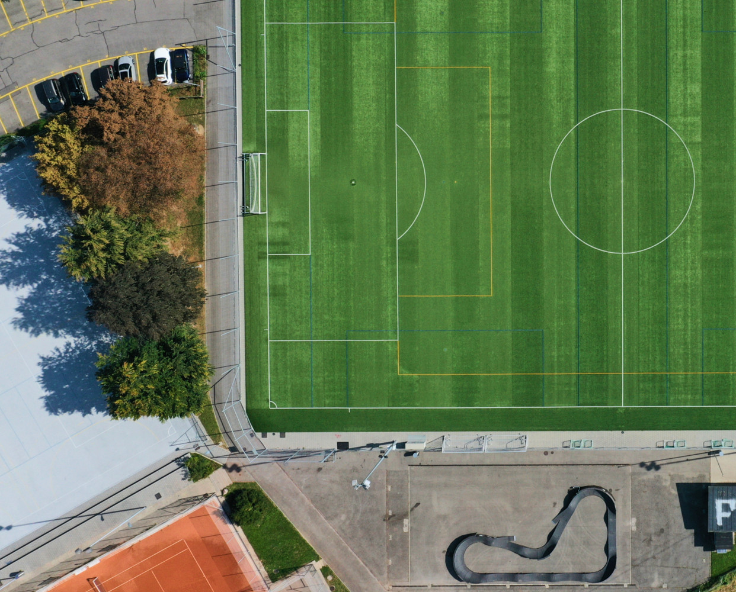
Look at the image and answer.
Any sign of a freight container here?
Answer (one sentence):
No, the scene contains no freight container.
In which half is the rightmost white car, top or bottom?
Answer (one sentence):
The rightmost white car is in the top half of the image.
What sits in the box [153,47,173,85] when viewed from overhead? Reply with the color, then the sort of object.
white car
